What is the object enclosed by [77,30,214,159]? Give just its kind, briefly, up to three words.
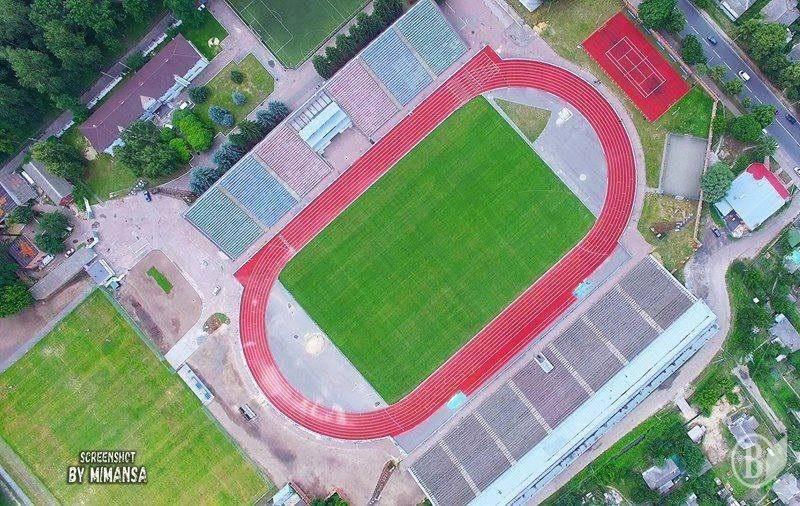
building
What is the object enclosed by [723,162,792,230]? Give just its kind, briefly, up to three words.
house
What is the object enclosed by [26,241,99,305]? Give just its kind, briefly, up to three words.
shed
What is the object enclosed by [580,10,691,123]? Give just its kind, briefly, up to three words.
tennis court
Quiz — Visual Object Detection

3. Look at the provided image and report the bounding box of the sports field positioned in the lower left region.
[0,291,281,506]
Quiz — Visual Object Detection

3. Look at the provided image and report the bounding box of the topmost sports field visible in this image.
[227,0,372,69]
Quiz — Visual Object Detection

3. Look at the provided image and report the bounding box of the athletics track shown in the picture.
[235,46,638,442]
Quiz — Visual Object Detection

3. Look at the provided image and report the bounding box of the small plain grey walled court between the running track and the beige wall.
[659,132,709,201]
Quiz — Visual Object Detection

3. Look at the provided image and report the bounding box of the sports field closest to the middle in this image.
[278,94,598,406]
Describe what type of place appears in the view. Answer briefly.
sports ground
